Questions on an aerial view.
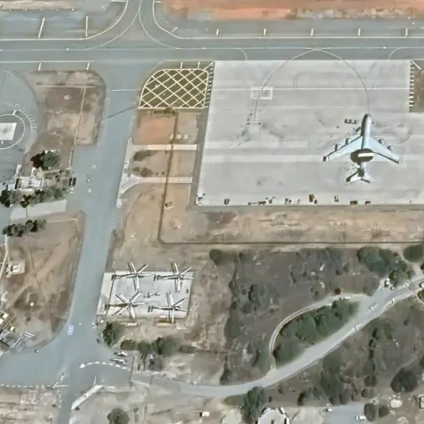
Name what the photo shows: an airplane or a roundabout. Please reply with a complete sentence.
This aerial view contains an airplane.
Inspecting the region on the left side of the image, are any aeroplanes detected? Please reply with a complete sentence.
No, there's no aeroplane to be seen on the left side of the image.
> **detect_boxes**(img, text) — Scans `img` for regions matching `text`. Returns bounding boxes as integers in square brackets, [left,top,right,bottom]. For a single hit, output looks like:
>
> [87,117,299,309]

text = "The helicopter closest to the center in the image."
[153,259,196,291]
